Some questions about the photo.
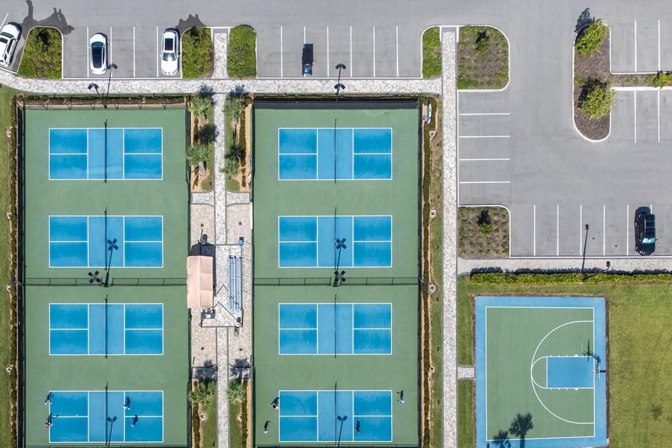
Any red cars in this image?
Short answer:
No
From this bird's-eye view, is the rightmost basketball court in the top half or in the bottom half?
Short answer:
bottom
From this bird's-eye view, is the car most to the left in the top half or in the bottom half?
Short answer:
top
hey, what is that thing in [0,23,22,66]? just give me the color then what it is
white car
